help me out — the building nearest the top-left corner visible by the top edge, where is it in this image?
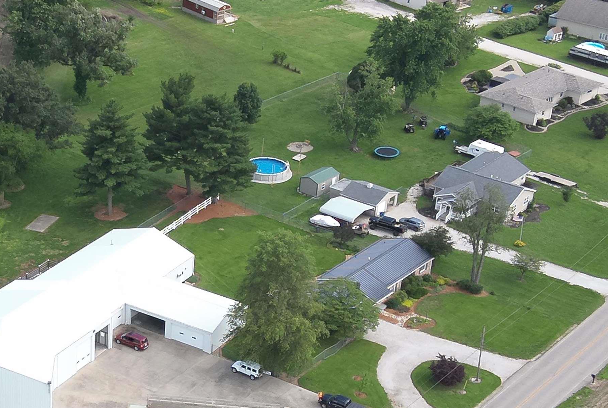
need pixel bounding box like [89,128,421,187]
[183,0,232,23]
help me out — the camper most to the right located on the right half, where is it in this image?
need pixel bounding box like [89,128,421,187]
[568,40,608,64]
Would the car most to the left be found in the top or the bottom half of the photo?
bottom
